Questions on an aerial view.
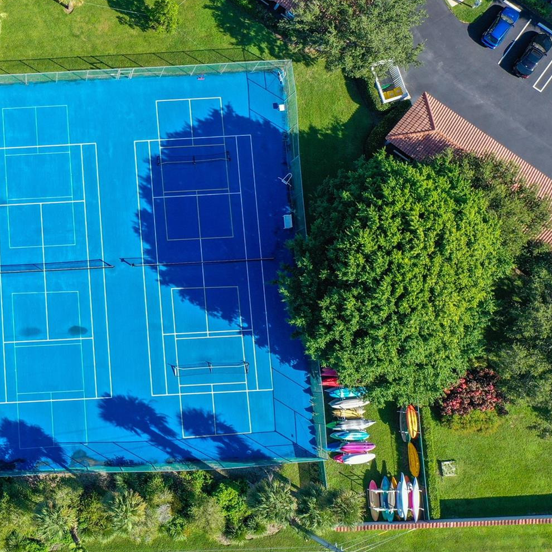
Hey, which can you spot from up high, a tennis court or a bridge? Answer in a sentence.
Visible in the photo is a tennis court.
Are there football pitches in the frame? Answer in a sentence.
No, the picture doesn't show any football pitch.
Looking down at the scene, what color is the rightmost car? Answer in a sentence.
From above, the rightmost car appears black.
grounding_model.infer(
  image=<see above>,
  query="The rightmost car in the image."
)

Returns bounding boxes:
[513,31,552,80]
